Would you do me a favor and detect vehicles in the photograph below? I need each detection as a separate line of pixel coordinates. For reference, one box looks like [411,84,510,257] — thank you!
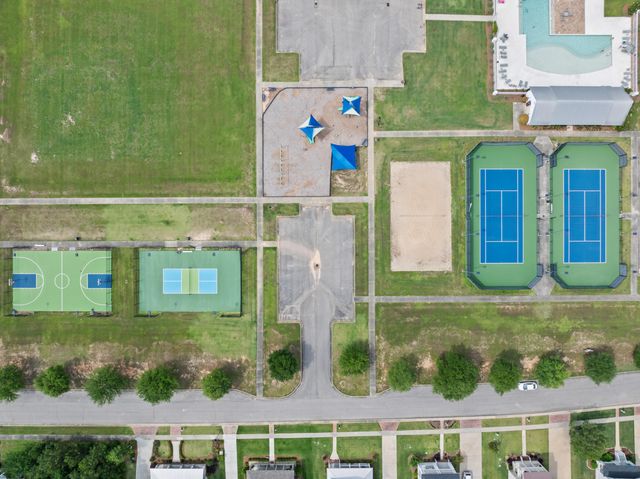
[519,380,539,390]
[462,470,471,479]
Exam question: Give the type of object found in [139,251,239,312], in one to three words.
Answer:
sports court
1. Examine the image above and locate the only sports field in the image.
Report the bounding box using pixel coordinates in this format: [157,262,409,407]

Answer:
[0,0,255,197]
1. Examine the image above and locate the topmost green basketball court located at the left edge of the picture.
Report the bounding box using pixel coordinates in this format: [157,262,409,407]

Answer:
[12,251,111,311]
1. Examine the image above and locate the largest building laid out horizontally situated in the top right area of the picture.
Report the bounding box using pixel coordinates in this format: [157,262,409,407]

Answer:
[527,86,633,126]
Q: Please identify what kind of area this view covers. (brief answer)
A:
sports ground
